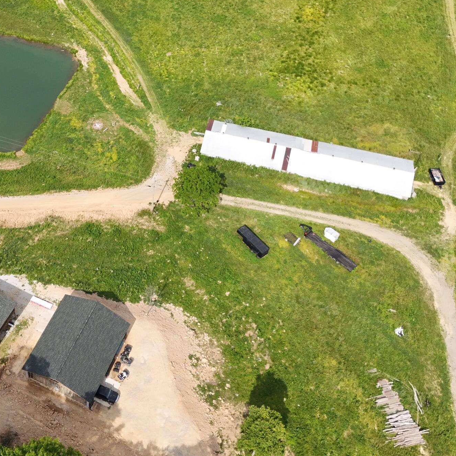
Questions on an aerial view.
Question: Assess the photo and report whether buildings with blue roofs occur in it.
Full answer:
No, I can't see a single building with a blue roof in this photo.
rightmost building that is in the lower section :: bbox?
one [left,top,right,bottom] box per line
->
[22,295,130,407]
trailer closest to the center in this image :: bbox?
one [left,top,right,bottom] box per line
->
[235,224,271,260]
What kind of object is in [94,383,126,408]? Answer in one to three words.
truck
